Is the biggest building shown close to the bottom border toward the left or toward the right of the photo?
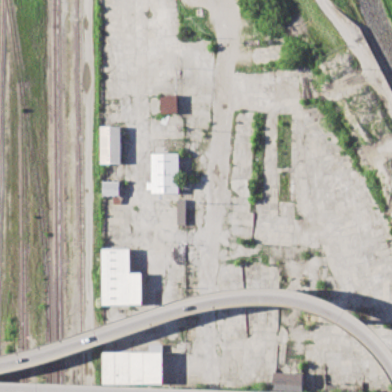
left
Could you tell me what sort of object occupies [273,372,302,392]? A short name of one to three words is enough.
house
